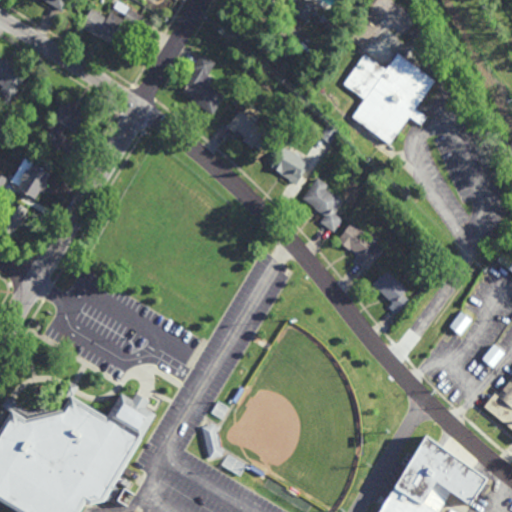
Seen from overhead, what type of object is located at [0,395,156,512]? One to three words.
building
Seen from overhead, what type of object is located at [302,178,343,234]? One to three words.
house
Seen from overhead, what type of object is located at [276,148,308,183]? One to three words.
house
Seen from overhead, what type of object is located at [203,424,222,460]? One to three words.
building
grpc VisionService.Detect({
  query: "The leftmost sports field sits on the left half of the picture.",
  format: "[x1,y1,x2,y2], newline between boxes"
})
[90,153,262,338]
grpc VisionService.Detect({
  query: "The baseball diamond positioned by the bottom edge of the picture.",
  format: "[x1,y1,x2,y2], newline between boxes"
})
[220,322,362,512]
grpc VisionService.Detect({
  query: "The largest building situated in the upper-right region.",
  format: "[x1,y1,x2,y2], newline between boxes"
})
[343,55,434,145]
